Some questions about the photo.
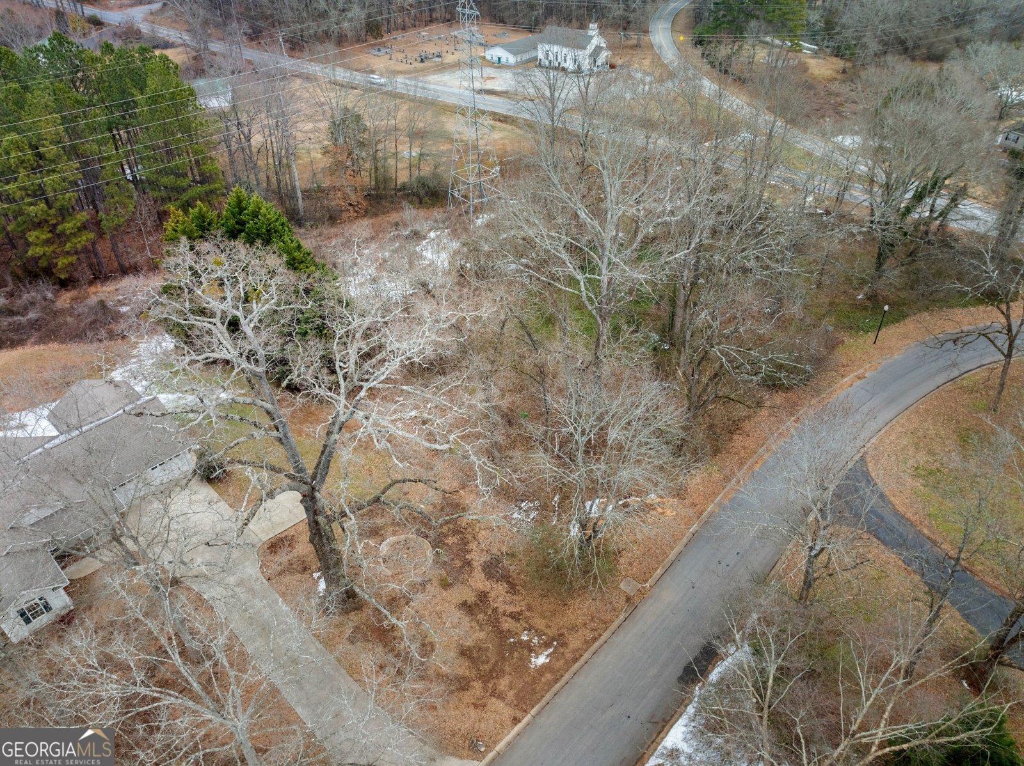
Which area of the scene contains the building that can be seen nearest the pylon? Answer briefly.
top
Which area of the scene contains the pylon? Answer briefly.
top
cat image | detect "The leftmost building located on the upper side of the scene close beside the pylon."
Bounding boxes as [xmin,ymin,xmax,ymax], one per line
[484,42,539,66]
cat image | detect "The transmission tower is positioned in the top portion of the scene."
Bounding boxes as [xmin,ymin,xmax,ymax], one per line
[439,0,502,217]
